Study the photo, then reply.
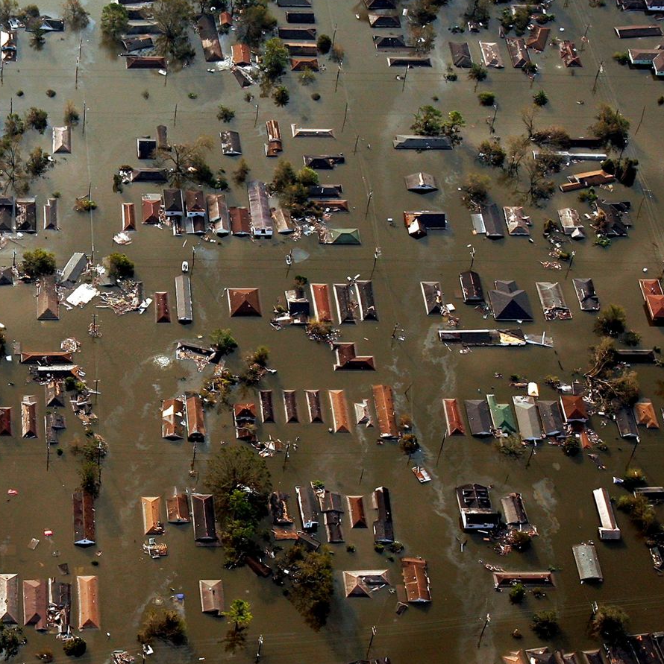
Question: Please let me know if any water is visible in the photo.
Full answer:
Yes, there's water in this view.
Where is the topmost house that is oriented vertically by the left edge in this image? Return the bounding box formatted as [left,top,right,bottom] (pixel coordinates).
[1,29,17,62]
